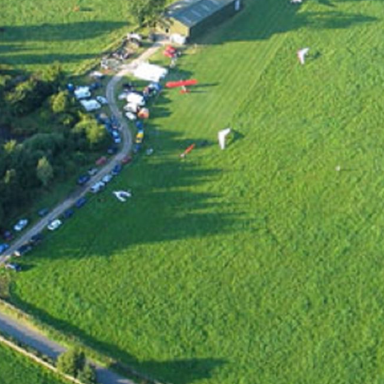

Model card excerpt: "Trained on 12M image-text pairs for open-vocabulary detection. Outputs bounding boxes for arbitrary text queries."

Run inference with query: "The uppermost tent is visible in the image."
[133,60,172,83]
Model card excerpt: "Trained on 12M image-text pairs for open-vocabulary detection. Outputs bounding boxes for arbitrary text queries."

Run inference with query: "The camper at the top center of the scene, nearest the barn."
[169,34,186,47]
